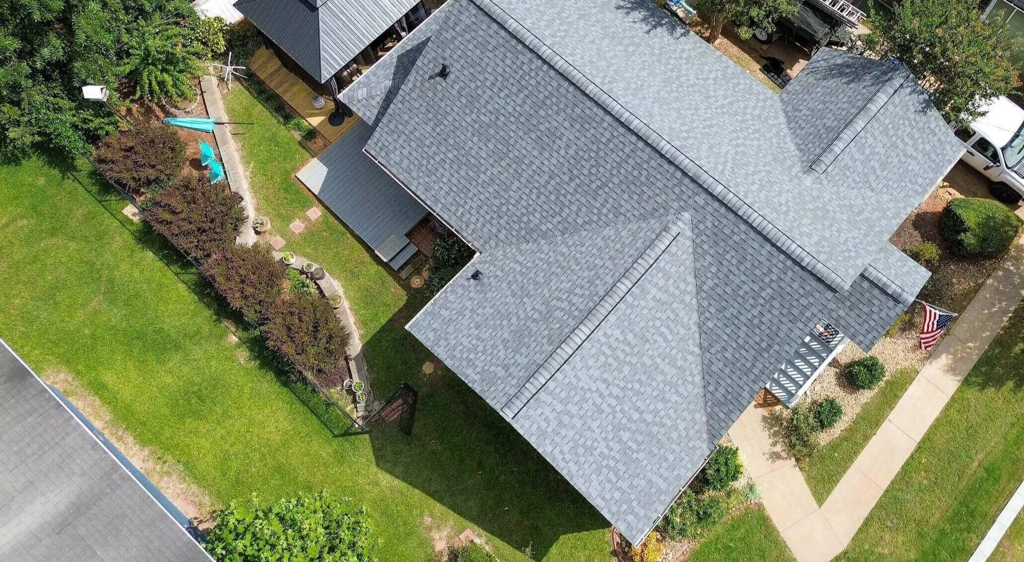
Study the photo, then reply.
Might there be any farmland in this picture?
No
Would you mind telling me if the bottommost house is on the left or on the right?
left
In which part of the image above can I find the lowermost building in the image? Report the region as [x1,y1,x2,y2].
[0,336,220,562]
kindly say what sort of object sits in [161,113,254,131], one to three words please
umbrella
